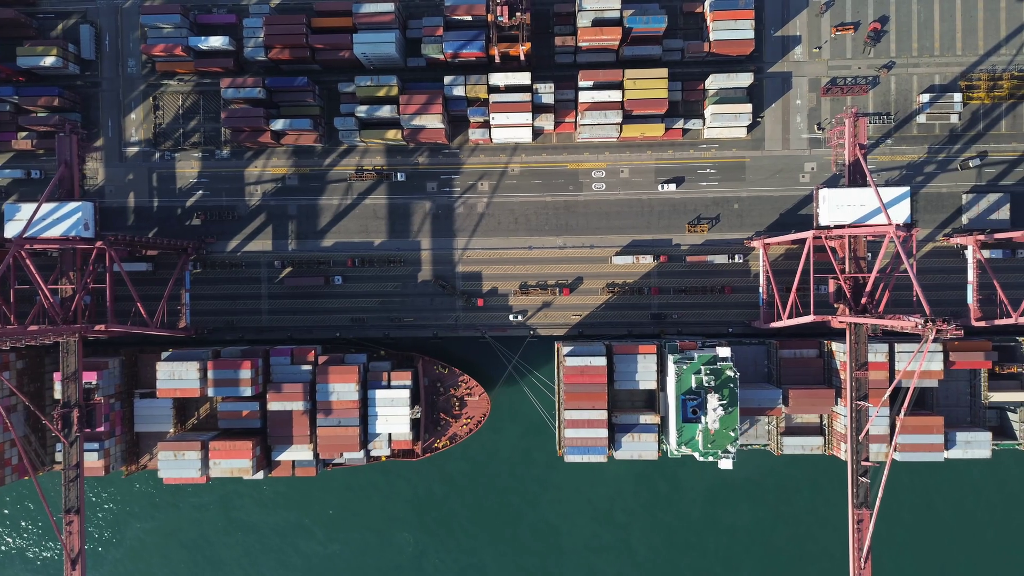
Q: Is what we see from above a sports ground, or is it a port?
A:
port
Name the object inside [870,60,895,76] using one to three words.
work vehicle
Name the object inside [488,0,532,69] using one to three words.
crane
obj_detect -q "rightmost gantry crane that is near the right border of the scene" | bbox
[944,236,1024,327]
